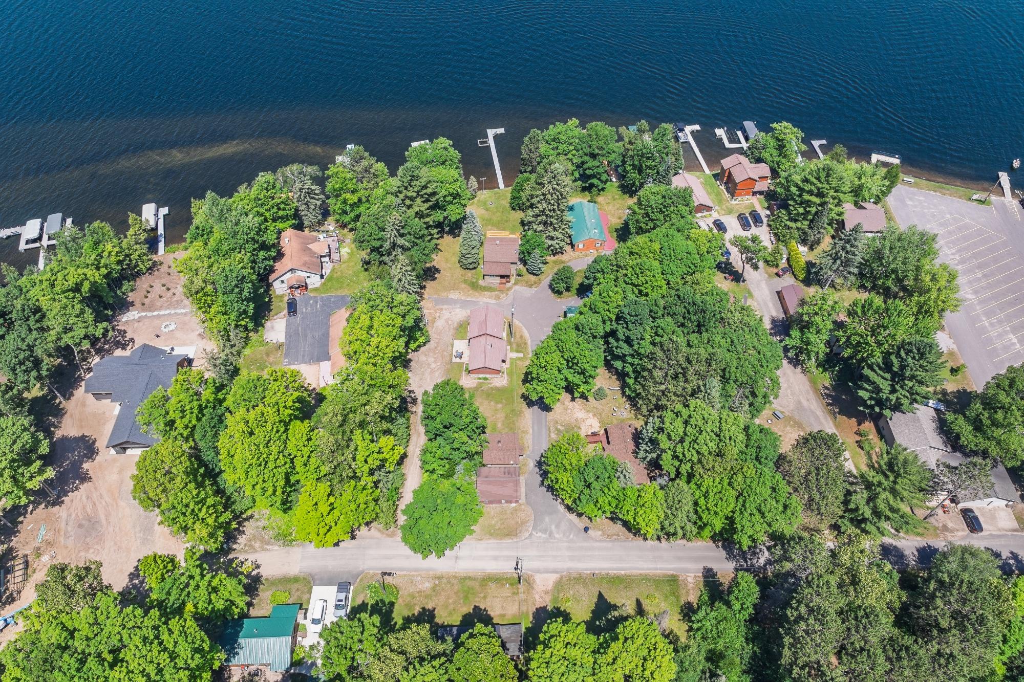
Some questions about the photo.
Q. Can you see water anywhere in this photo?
Yes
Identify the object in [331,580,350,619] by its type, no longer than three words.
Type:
vehicle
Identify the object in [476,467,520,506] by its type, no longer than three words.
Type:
building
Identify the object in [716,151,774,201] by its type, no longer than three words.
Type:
house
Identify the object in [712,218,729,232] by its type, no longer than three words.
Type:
car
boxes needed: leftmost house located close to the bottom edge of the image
[217,605,311,676]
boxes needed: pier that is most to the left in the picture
[16,218,72,272]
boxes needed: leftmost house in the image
[79,342,190,455]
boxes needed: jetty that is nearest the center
[490,128,505,189]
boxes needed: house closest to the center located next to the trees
[467,303,508,378]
